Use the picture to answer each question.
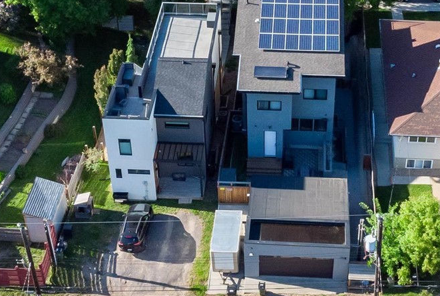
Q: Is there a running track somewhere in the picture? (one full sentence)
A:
No, there's no running track here.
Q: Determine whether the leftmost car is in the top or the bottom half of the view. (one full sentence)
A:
You can find the leftmost car in the bottom half.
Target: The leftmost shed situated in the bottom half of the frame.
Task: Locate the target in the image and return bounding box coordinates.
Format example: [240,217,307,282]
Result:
[23,177,68,240]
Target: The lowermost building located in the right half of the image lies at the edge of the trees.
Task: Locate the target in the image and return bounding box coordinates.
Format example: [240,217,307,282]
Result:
[244,177,351,283]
